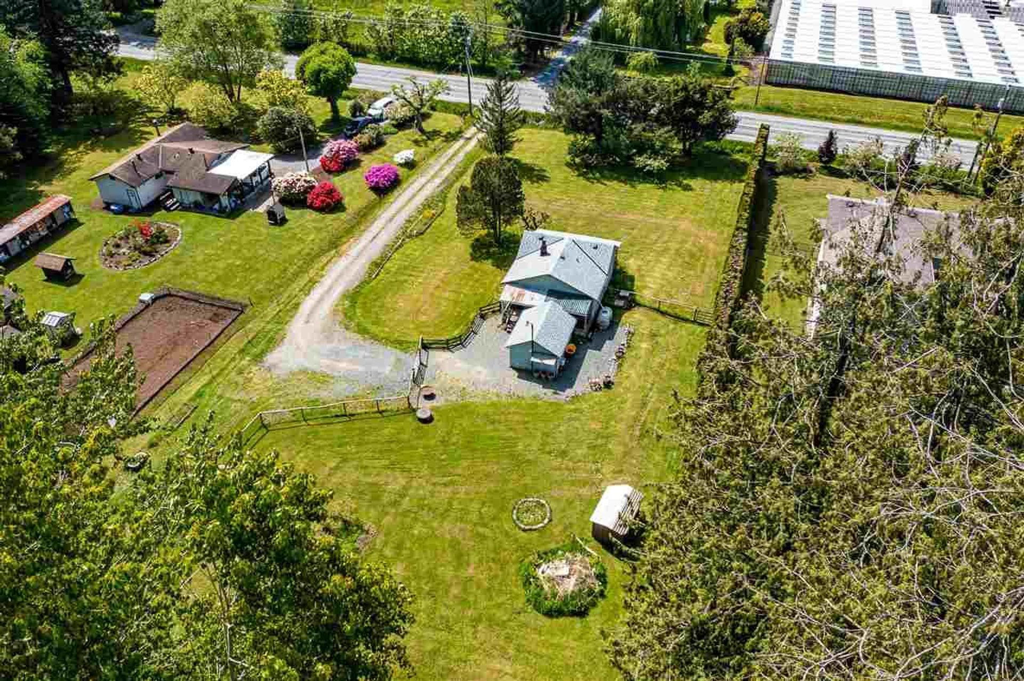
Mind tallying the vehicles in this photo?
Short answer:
2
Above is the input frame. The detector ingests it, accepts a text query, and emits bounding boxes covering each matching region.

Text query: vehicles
[343,113,378,135]
[366,90,400,116]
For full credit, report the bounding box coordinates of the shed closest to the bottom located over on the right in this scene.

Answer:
[589,485,646,550]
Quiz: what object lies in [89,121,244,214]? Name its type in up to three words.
house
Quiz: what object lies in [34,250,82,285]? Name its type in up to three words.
shed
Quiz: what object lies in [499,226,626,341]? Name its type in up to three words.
house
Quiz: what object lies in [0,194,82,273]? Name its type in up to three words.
shed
